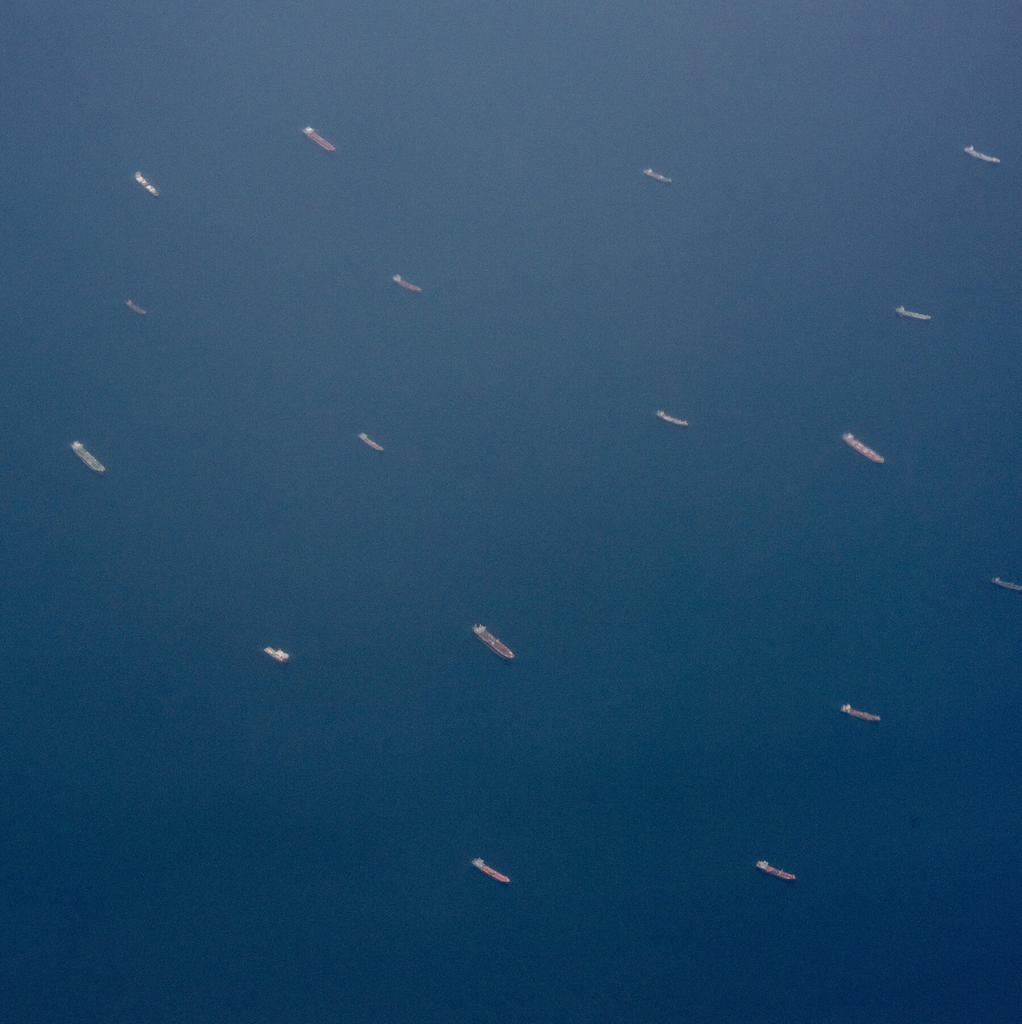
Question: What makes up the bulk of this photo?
water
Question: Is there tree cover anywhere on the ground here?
No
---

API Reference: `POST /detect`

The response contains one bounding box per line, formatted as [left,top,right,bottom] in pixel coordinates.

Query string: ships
[134,173,159,197]
[841,434,885,464]
[756,861,795,880]
[642,169,672,183]
[991,577,1022,591]
[357,433,383,451]
[70,442,106,472]
[470,858,510,882]
[264,649,289,660]
[124,300,146,314]
[964,147,1000,164]
[895,307,931,320]
[302,127,336,152]
[392,275,421,292]
[840,705,880,722]
[472,626,515,658]
[656,412,688,426]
